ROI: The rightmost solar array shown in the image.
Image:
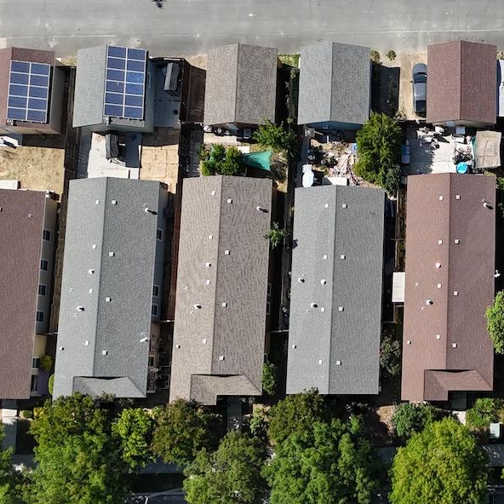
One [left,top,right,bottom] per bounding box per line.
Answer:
[104,47,146,121]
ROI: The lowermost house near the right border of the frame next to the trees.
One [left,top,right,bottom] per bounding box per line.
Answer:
[401,173,500,401]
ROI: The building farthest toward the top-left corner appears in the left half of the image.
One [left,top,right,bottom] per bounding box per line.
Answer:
[0,47,66,134]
